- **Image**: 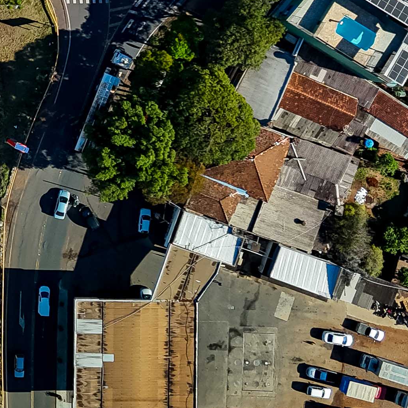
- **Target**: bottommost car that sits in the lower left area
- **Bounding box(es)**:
[13,354,27,378]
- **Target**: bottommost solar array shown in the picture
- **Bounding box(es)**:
[388,50,408,83]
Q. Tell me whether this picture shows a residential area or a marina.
residential area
